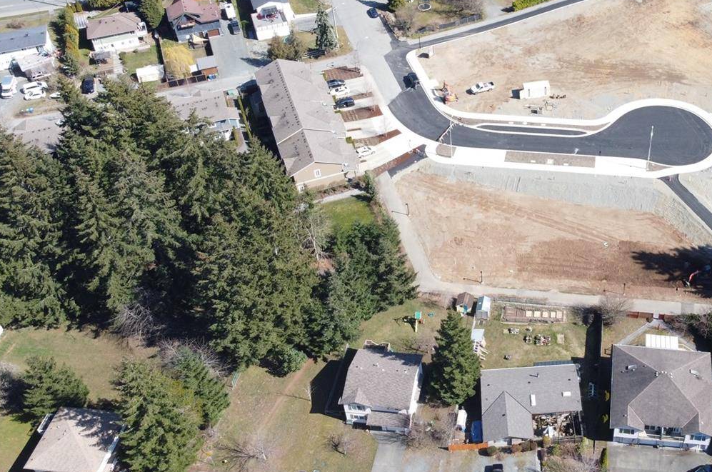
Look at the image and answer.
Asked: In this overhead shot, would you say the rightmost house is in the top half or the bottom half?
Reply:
bottom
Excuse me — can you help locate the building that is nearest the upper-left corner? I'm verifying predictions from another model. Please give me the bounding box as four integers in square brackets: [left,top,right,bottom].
[0,25,59,80]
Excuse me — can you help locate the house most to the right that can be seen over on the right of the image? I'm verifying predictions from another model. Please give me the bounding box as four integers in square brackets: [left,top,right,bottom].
[609,337,712,460]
